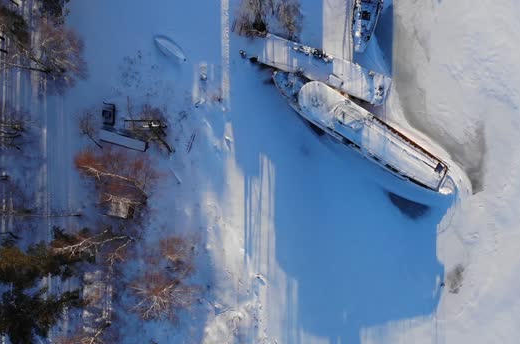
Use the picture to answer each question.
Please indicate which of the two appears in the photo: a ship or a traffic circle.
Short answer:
ship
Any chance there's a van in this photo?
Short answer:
No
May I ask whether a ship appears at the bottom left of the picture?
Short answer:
No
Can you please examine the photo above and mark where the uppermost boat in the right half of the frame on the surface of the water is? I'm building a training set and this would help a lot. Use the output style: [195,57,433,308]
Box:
[353,0,382,55]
